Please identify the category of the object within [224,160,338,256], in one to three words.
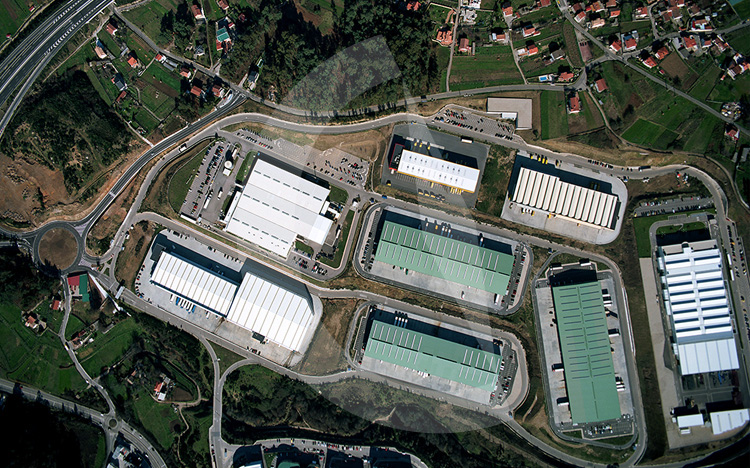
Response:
building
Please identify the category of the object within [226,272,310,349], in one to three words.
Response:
building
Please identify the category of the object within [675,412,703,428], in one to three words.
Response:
shed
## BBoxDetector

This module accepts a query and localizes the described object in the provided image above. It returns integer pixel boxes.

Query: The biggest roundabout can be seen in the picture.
[32,223,84,275]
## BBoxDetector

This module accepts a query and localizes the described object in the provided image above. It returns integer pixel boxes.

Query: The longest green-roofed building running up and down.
[550,281,620,423]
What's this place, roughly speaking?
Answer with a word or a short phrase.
residential area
